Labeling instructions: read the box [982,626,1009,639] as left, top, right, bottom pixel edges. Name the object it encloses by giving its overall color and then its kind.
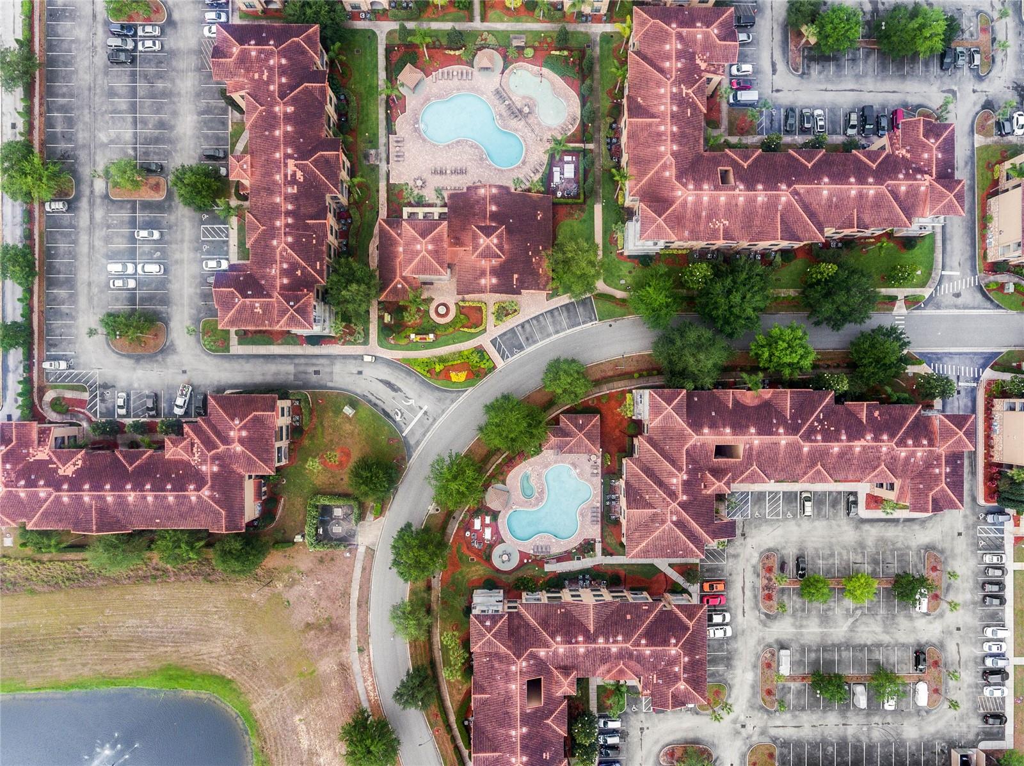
white vehicle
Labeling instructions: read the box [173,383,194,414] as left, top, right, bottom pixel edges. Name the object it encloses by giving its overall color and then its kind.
white truck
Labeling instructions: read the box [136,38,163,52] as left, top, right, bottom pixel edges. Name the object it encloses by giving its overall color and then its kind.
white car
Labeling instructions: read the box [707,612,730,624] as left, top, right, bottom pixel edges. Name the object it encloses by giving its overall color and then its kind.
white vehicle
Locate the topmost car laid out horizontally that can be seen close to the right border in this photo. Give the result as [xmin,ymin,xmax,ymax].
[984,512,1012,525]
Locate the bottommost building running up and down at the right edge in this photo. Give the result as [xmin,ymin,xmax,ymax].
[995,401,1024,468]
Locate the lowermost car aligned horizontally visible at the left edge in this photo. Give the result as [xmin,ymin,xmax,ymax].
[44,359,70,371]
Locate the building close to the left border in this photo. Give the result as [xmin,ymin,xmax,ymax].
[0,393,296,535]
